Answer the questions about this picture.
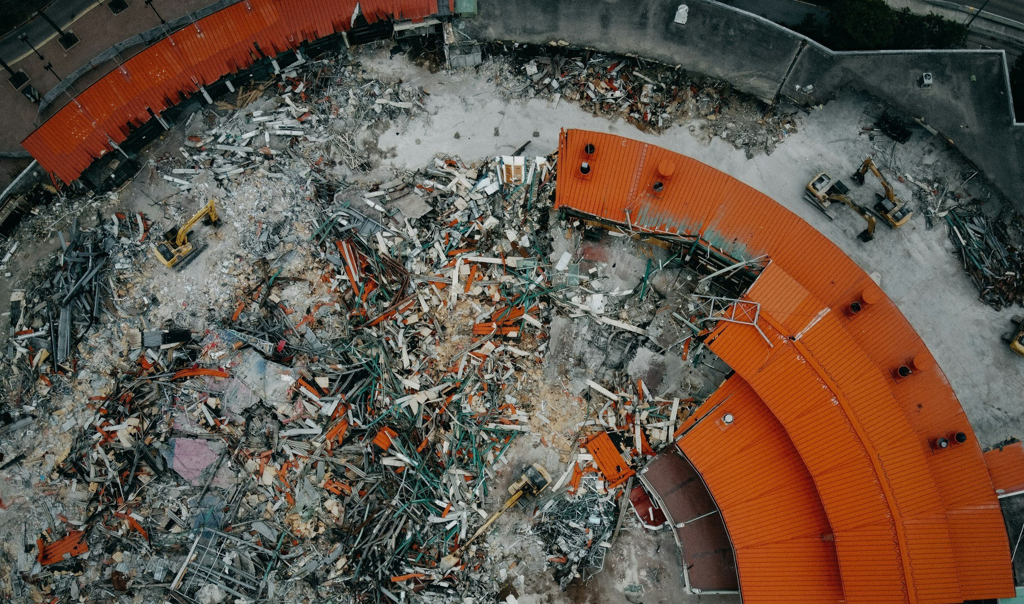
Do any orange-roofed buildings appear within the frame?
Yes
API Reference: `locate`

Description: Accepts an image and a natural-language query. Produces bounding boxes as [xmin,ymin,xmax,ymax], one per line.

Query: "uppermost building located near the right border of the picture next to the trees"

[774,35,1024,227]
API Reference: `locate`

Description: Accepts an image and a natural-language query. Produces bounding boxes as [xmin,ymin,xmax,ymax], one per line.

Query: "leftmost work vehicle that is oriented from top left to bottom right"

[792,171,876,243]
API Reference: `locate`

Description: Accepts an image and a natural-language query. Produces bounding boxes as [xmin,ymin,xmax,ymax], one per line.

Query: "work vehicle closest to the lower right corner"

[1000,319,1024,358]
